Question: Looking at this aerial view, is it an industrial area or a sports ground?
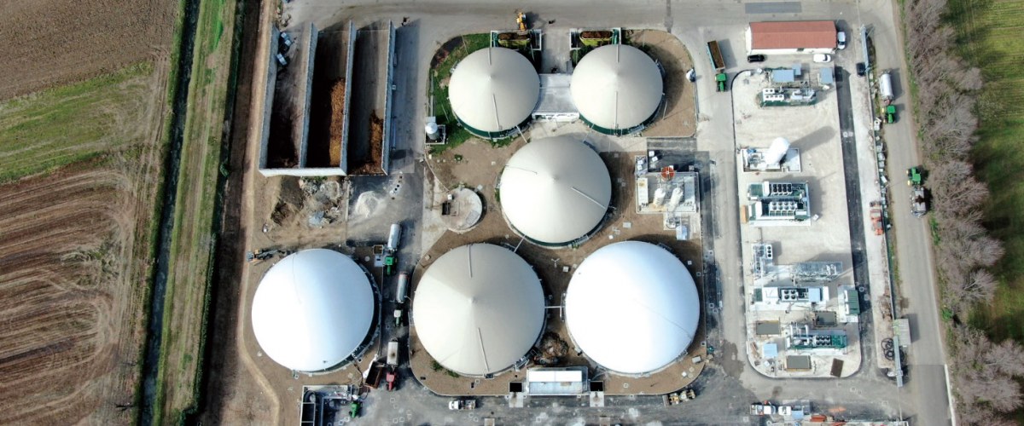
industrial area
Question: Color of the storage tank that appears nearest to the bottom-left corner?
white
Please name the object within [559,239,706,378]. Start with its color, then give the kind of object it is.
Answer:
white storage tank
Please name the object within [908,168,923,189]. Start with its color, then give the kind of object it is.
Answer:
green work vehicle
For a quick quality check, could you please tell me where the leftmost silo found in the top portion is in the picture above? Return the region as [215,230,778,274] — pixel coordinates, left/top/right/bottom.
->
[423,120,446,145]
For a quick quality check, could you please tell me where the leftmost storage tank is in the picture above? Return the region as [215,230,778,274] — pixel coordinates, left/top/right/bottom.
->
[250,248,383,375]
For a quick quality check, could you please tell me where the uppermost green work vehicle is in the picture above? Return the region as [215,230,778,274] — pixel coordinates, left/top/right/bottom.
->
[715,74,727,95]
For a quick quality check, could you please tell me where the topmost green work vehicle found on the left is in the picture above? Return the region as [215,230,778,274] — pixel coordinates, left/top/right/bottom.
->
[384,254,396,274]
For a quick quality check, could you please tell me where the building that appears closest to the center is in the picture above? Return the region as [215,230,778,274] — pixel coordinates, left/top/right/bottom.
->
[533,73,579,123]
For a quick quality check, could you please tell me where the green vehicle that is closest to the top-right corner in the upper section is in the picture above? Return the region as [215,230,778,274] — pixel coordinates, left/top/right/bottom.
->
[884,105,898,127]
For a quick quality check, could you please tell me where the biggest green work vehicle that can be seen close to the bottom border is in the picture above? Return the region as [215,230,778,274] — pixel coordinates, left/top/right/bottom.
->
[347,401,359,422]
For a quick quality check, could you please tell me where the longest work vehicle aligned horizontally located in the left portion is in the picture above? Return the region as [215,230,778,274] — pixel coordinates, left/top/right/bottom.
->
[240,246,287,262]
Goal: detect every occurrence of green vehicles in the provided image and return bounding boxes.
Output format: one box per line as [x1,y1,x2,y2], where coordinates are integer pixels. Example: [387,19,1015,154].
[908,168,923,189]
[884,105,898,127]
[384,254,396,274]
[715,74,727,95]
[347,401,359,422]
